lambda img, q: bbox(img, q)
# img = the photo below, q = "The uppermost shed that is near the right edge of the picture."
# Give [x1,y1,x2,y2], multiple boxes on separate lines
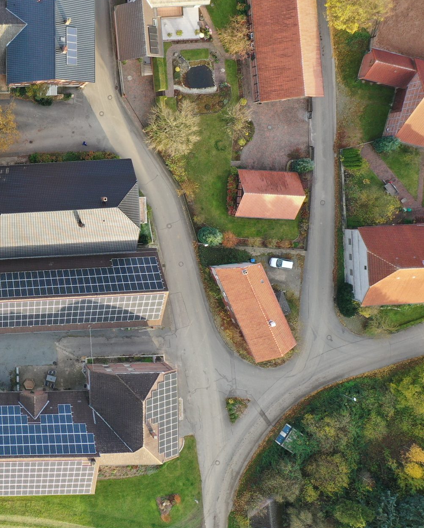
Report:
[355,48,420,89]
